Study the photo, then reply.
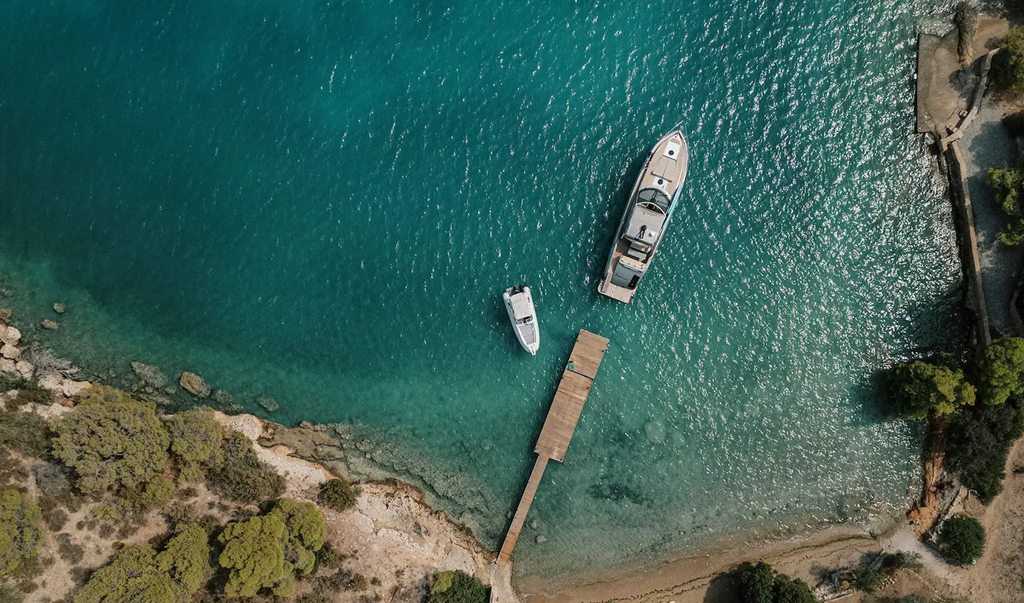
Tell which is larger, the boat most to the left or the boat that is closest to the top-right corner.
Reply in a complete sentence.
It is the boat that is closest to the top-right corner that is larger, not the boat most to the left.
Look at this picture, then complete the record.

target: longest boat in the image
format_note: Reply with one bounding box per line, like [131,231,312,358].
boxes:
[599,120,692,302]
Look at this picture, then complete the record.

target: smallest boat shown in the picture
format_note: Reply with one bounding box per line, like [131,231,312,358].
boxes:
[502,283,540,357]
